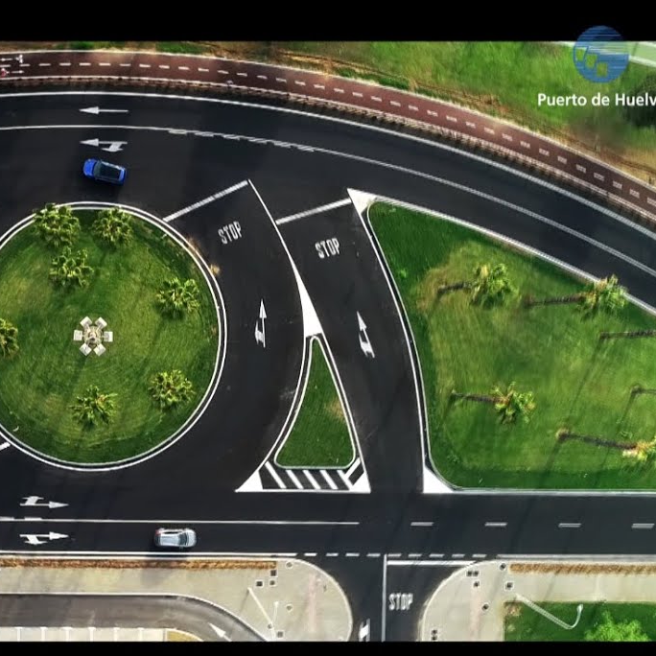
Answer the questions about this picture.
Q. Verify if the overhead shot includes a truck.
No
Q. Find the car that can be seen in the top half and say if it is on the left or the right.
left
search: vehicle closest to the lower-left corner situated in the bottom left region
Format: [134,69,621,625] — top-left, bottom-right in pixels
[154,526,194,549]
